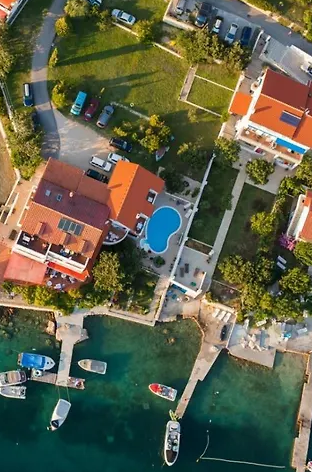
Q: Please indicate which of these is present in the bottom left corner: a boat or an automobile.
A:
boat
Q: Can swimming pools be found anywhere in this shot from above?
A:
Yes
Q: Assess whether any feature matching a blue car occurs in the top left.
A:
Yes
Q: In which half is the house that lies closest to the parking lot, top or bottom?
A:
top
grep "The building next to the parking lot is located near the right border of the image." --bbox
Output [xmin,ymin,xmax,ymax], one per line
[229,68,312,172]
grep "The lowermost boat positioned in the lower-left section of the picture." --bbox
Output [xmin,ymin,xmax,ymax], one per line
[47,399,70,434]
